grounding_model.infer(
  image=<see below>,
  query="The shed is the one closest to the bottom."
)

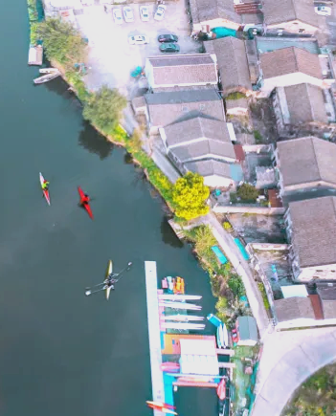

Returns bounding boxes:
[234,315,260,346]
